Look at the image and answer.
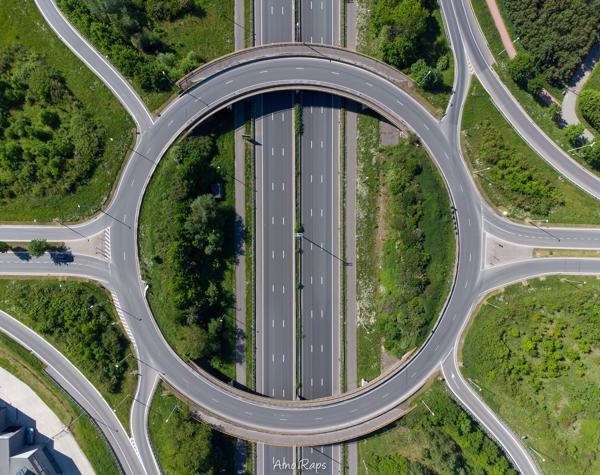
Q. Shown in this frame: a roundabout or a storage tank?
roundabout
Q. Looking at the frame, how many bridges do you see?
two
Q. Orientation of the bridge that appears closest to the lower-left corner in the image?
from left to right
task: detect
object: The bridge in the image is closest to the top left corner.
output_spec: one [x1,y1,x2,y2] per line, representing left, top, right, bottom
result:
[174,40,422,136]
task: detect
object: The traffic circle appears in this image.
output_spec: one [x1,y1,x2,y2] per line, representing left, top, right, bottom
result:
[104,54,486,434]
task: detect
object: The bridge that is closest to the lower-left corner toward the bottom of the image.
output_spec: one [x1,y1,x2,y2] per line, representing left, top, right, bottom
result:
[176,346,418,447]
